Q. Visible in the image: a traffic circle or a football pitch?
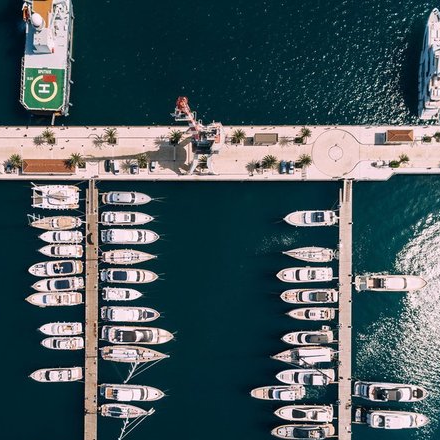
traffic circle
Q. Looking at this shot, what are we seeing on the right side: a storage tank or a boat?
boat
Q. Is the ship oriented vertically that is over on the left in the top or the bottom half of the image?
top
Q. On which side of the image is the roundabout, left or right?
right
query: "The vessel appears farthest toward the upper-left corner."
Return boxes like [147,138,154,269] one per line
[20,0,81,128]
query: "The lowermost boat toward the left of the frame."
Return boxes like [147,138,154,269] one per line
[98,401,165,440]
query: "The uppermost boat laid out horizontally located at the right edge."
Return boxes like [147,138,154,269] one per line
[347,274,429,292]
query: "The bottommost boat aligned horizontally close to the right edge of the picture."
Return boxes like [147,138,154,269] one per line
[364,409,431,430]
